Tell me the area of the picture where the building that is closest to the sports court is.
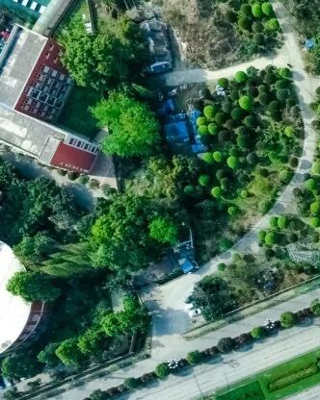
top left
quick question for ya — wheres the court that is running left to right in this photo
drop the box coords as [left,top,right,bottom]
[0,0,53,25]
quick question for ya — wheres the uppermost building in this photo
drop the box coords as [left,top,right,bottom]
[137,18,173,72]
